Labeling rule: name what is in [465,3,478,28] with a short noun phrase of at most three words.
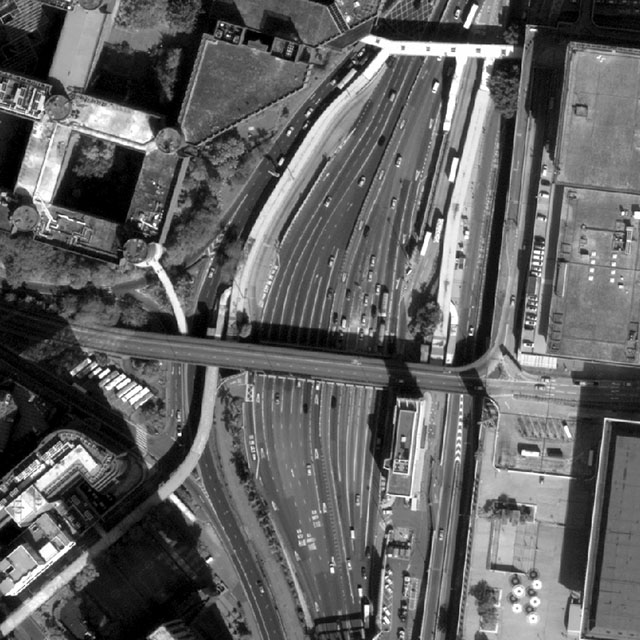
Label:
vehicle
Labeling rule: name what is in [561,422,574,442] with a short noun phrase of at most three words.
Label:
vehicle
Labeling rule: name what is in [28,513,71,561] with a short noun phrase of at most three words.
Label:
building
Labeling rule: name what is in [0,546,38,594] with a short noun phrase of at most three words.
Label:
building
